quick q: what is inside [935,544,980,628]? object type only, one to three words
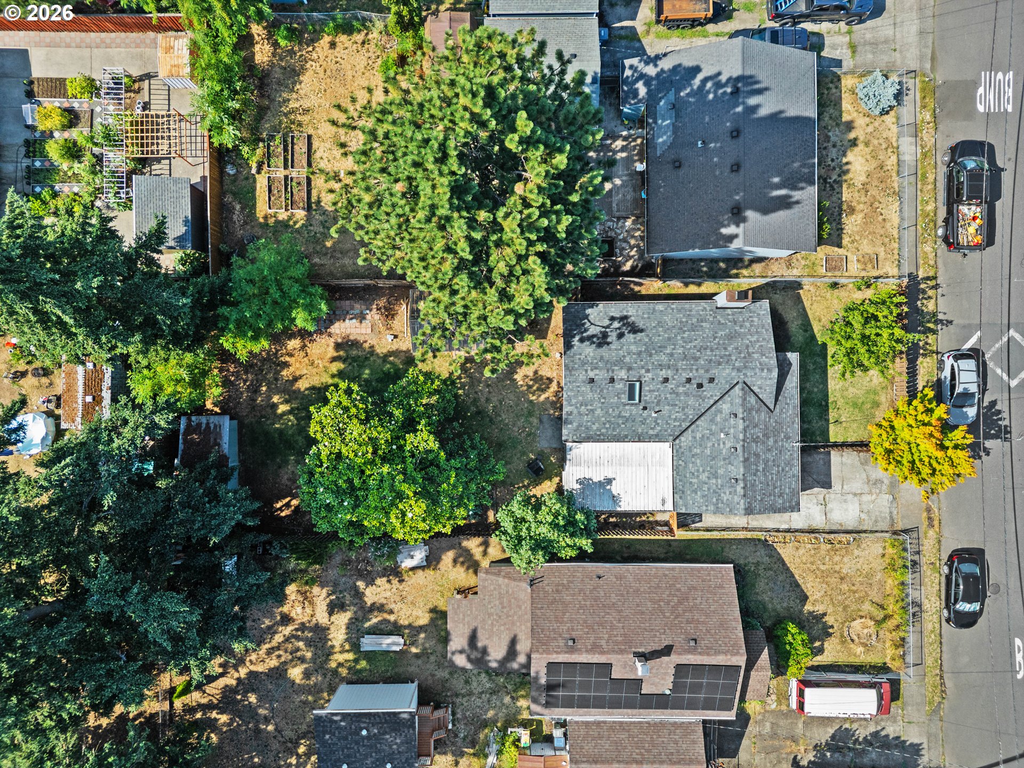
car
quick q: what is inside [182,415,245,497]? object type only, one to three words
shed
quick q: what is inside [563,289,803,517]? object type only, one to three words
house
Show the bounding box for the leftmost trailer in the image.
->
[654,0,733,32]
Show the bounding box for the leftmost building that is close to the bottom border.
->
[312,677,420,768]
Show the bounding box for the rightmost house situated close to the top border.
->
[618,38,820,254]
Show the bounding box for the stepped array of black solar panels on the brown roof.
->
[545,663,740,709]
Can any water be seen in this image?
No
